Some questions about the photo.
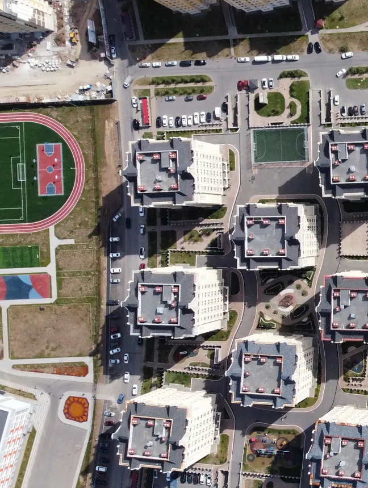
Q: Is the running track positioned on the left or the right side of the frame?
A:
left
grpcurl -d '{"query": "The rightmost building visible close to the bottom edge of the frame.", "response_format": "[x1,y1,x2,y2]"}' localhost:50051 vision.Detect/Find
[307,400,368,488]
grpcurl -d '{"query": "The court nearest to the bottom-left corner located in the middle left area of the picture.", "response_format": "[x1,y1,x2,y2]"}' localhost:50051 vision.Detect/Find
[0,274,50,299]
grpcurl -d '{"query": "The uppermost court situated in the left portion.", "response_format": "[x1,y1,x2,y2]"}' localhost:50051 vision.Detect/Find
[29,143,63,196]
